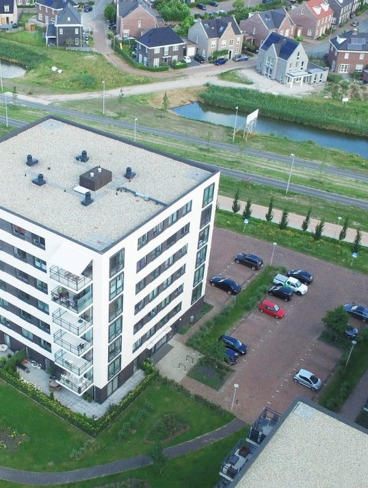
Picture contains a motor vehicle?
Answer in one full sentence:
Yes, you can see a motor vehicle in this photo.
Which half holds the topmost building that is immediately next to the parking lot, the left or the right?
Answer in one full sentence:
The topmost building that is immediately next to the parking lot is on the left side of the image.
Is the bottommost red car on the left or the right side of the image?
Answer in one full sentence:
The bottommost red car is on the right side of the image.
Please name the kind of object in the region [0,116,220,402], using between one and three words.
building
